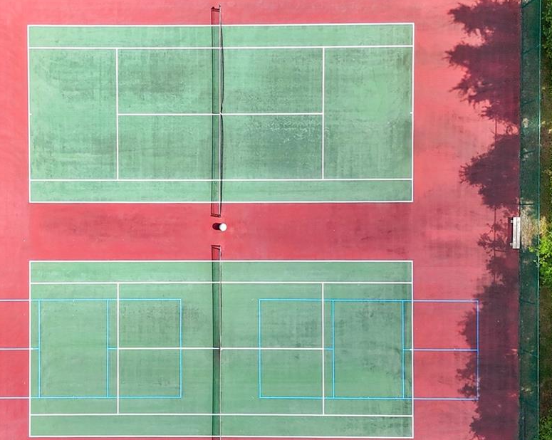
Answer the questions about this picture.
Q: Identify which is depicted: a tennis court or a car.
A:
tennis court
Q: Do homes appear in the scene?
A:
No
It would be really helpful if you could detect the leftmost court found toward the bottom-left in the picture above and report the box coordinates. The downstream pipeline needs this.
[0,301,181,399]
